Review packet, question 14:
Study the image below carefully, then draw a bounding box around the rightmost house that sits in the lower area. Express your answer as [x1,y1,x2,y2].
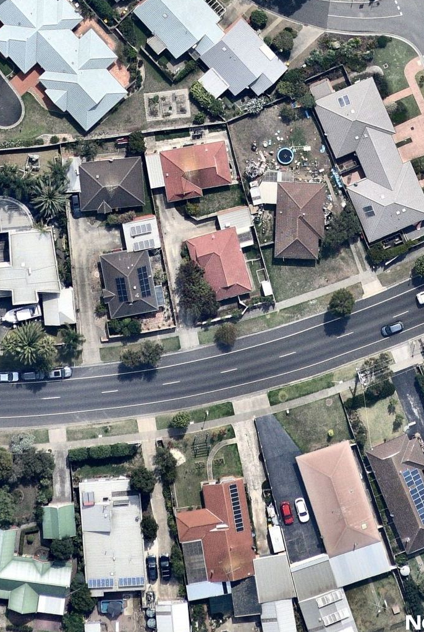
[366,434,424,554]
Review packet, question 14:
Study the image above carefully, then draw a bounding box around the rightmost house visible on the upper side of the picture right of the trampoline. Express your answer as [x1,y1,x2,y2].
[308,78,424,242]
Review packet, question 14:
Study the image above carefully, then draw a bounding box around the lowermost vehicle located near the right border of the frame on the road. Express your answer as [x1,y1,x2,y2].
[380,321,404,337]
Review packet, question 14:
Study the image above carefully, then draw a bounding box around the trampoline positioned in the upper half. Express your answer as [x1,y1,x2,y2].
[276,147,294,164]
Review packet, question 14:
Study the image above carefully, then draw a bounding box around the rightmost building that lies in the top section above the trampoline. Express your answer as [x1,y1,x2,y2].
[198,19,288,98]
